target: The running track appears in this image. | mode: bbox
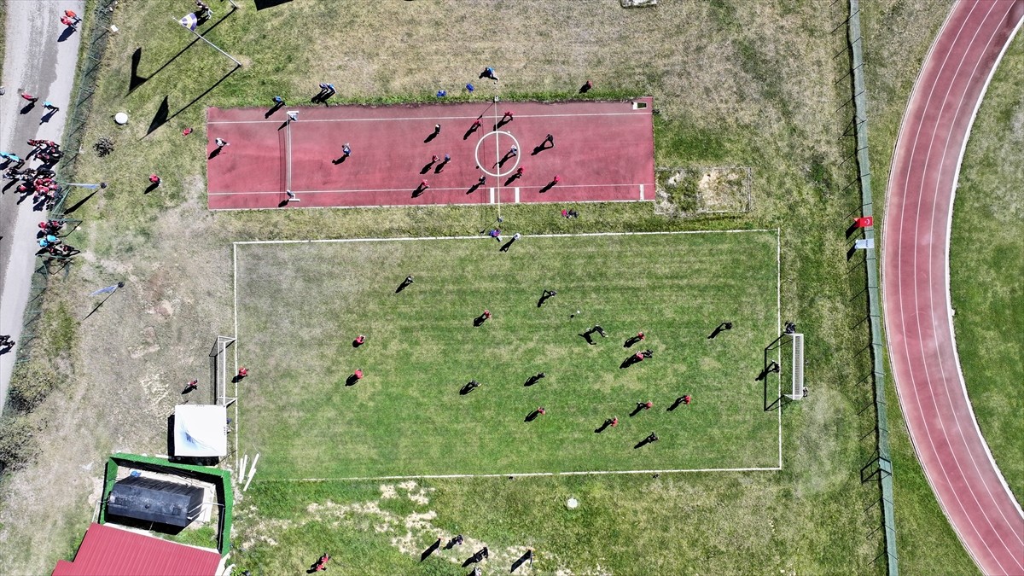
[879,0,1024,576]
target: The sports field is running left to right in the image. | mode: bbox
[233,228,783,480]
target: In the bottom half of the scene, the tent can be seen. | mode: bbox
[174,401,237,457]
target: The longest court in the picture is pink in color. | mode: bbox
[207,97,655,210]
